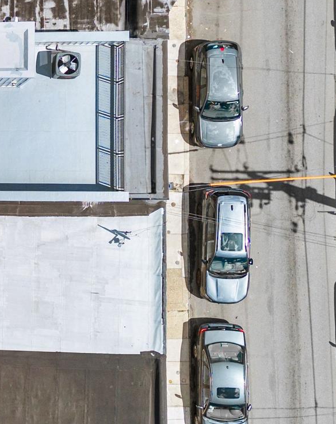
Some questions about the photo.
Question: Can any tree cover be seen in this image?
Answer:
No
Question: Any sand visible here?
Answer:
No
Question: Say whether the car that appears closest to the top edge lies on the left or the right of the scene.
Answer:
right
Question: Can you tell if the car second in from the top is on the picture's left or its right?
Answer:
right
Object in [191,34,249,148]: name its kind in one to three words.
car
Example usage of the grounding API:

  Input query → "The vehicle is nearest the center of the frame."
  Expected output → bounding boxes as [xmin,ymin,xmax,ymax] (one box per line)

[196,179,257,303]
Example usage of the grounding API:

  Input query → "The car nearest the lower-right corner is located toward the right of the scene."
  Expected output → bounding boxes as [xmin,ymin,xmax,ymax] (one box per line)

[192,316,254,424]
